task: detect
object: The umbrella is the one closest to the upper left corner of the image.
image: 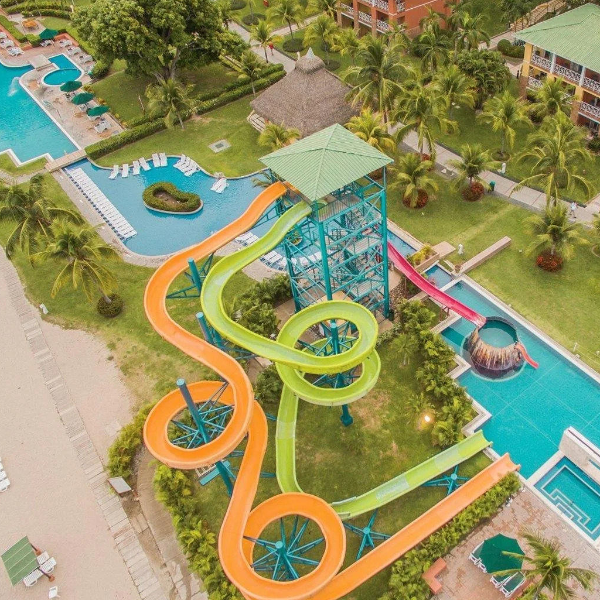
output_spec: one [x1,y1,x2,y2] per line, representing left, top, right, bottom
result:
[38,30,61,46]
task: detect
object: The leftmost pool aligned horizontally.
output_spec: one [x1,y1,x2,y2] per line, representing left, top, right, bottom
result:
[67,157,421,275]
